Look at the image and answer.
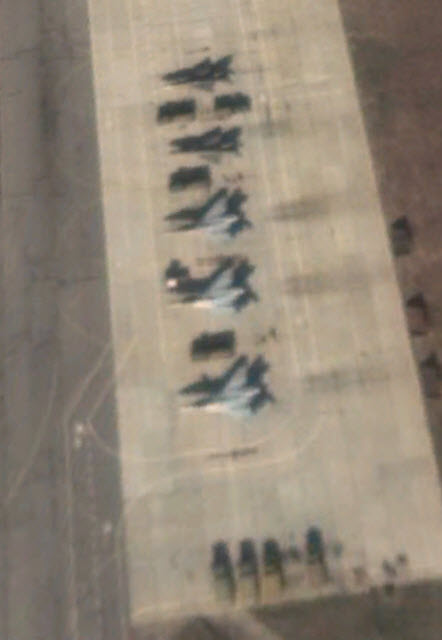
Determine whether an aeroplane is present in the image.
Yes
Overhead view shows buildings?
No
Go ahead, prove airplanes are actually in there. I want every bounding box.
[160,61,231,88]
[178,369,276,419]
[159,200,250,242]
[168,130,240,159]
[167,270,260,315]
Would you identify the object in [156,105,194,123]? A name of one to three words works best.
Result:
vehicle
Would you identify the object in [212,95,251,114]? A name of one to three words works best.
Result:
vehicle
